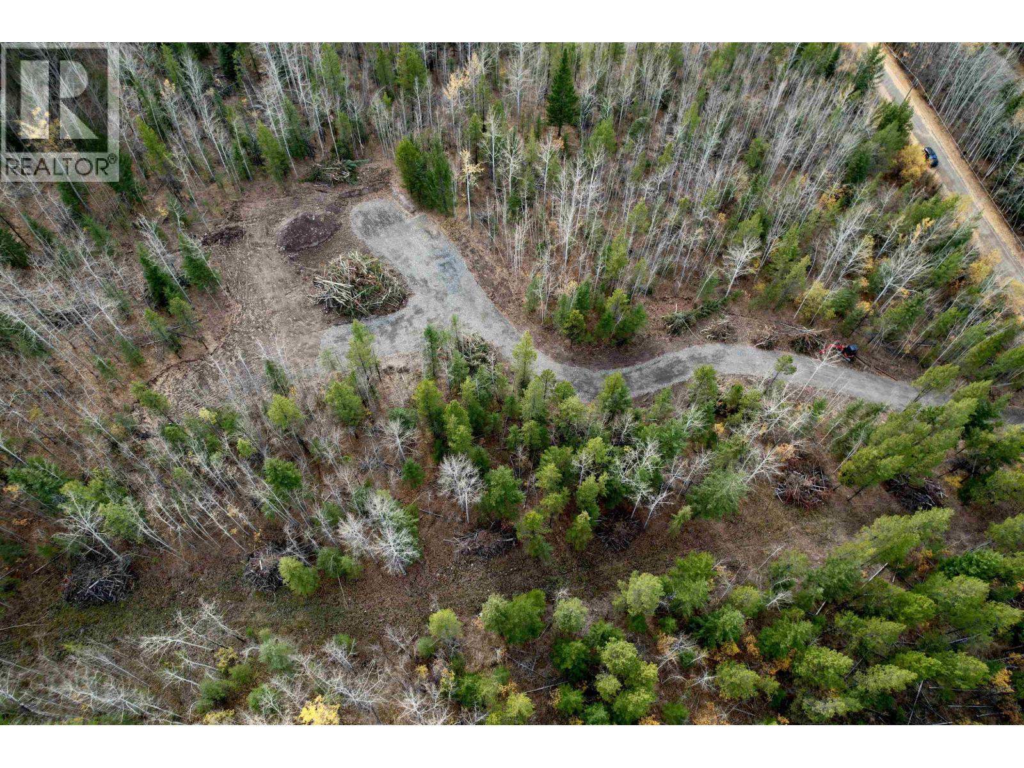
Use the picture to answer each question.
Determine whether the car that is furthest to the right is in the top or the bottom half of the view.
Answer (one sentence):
You can find the car that is furthest to the right in the top half.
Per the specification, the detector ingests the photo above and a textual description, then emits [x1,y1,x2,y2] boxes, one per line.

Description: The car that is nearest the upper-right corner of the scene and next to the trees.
[923,142,943,163]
